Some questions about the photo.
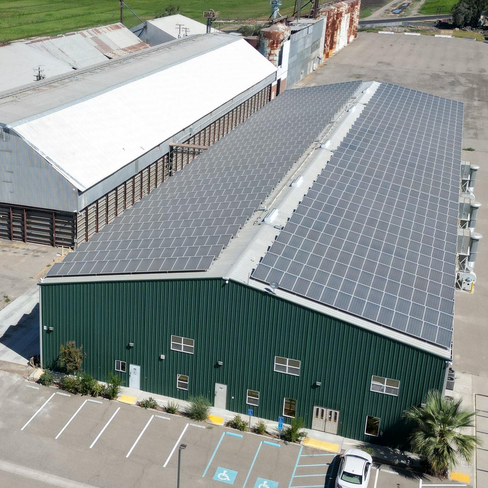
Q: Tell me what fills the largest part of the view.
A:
buildings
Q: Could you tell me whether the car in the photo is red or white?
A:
white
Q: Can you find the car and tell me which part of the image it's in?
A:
bottom right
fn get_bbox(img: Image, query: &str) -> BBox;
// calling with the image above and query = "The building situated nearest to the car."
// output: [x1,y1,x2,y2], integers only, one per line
[31,79,464,452]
